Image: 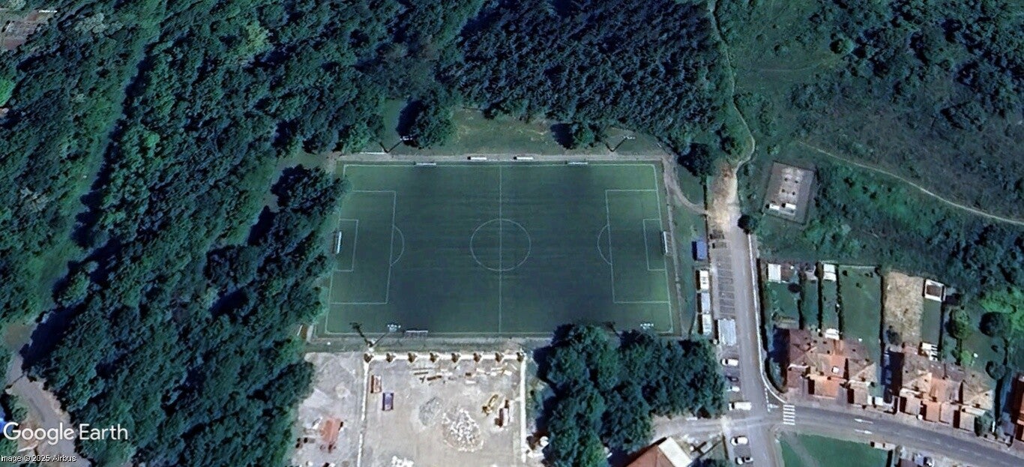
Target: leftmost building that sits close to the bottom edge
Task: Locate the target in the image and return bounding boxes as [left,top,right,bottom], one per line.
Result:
[622,437,693,467]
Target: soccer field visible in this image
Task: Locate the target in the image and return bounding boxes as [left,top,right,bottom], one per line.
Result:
[315,160,685,341]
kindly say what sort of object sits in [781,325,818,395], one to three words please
house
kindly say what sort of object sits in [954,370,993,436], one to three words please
house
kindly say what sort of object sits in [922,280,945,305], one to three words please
building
